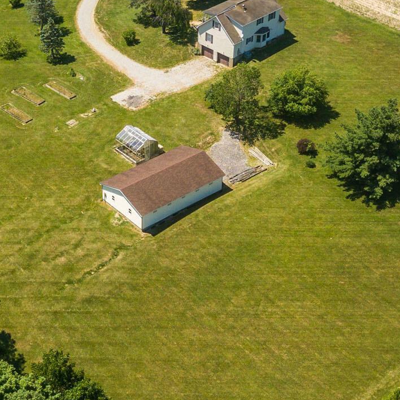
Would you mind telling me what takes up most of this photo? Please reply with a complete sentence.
Most of the picture is covered by grass.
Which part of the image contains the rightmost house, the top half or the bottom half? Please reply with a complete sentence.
The top half of the photo is where the rightmost house is.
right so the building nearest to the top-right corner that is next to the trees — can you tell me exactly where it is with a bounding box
[192,0,287,68]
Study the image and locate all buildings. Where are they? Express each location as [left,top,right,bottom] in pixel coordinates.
[114,125,162,164]
[99,146,227,232]
[192,0,287,68]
